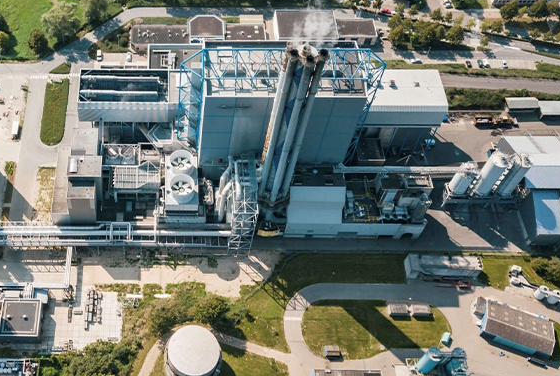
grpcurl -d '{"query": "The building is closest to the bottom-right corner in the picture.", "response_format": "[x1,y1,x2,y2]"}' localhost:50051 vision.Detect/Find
[475,299,559,365]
